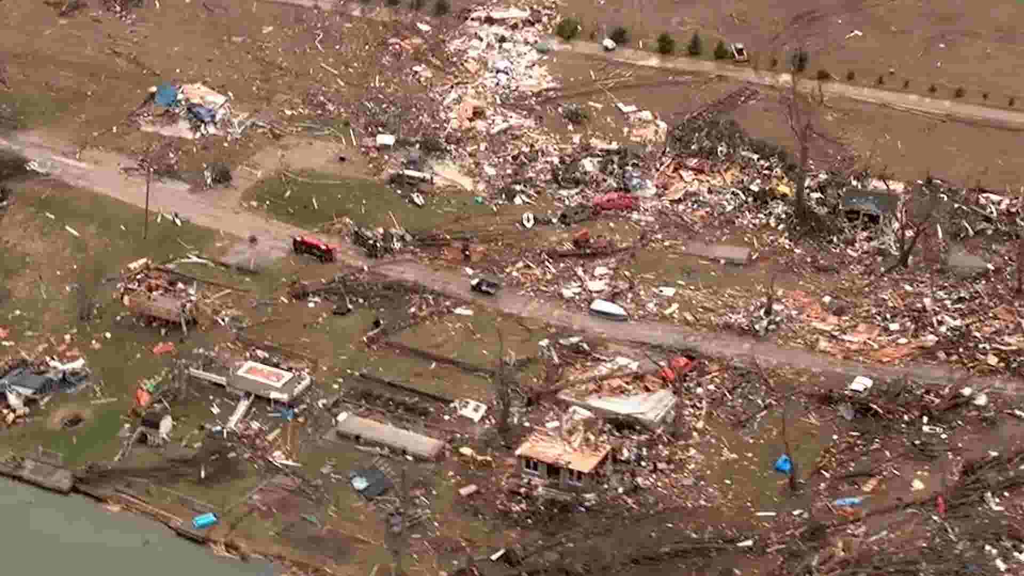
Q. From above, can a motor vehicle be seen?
Yes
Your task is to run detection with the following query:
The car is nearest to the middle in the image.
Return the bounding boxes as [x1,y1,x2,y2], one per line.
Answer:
[469,278,502,297]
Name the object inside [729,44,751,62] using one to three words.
vehicle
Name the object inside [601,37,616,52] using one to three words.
car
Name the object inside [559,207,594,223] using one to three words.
car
